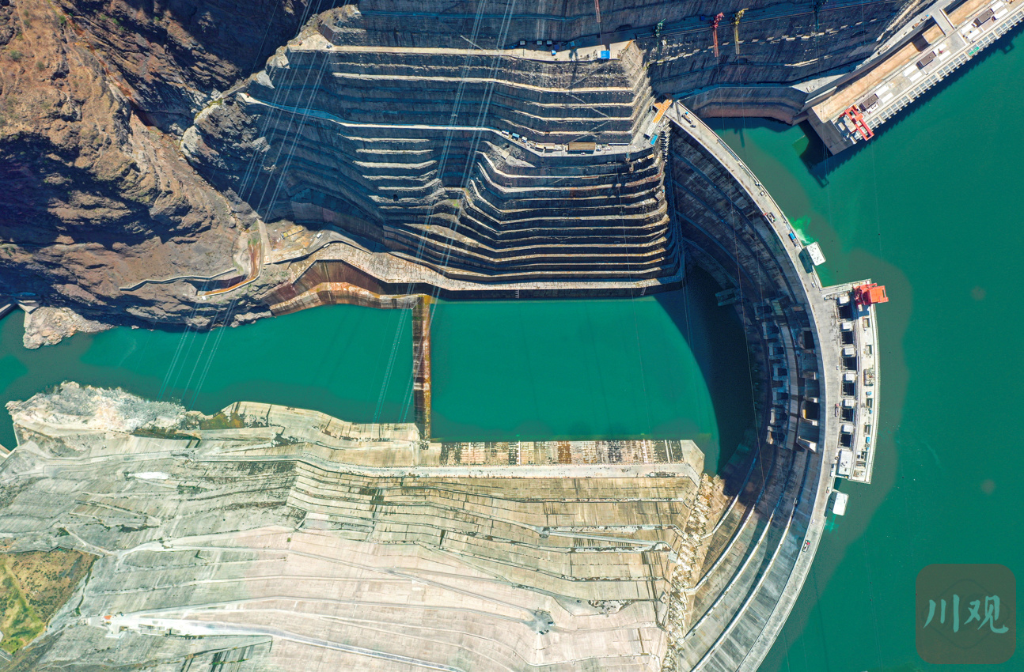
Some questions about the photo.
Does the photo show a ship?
No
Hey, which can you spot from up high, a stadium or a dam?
dam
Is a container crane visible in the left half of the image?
No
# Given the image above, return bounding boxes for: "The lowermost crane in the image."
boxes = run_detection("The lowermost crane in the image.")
[848,294,891,317]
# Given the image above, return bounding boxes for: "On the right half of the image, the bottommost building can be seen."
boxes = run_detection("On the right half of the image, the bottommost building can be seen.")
[832,492,854,519]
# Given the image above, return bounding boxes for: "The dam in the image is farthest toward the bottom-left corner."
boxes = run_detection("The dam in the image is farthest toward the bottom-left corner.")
[415,296,432,442]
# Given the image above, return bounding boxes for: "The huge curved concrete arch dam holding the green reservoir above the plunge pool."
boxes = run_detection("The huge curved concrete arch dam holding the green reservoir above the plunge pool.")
[660,98,880,672]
